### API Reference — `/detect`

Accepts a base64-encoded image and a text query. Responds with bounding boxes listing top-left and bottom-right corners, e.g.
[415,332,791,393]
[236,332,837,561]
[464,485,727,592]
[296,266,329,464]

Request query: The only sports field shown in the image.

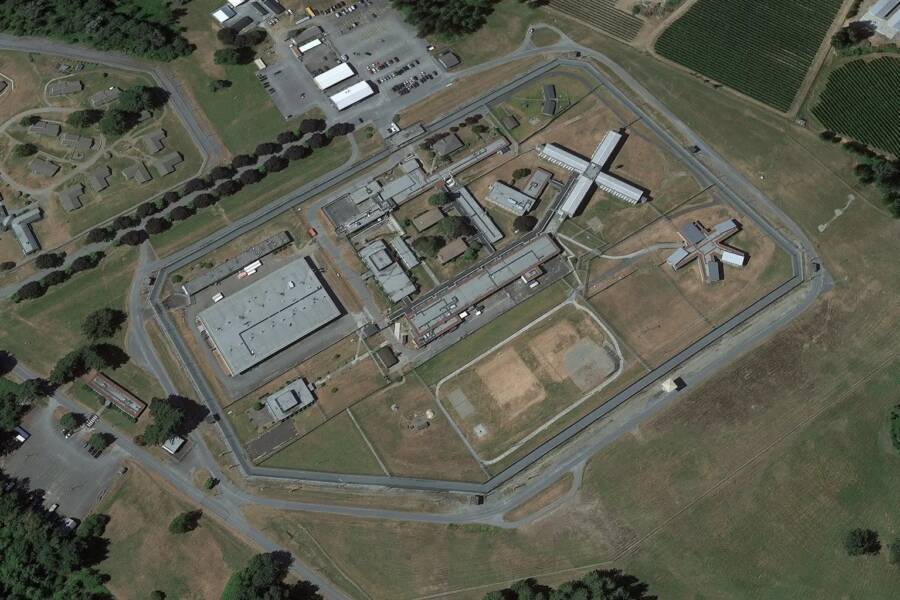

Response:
[435,300,623,463]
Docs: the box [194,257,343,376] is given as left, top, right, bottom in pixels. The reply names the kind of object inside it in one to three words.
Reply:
warehouse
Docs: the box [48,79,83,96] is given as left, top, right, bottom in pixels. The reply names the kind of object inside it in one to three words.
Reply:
house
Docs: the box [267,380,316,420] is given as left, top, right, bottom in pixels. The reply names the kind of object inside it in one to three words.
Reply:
building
